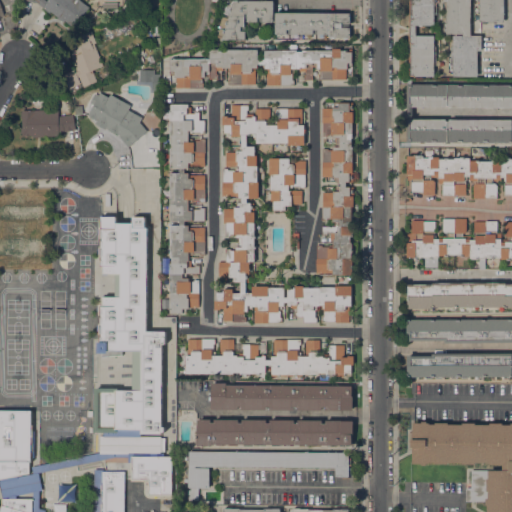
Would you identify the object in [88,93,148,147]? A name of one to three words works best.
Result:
building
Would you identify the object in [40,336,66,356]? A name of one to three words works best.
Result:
sports court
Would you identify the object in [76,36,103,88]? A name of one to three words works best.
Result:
house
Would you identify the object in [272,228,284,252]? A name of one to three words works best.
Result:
swimming pool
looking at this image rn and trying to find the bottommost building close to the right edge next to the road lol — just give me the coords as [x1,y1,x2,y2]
[412,422,512,512]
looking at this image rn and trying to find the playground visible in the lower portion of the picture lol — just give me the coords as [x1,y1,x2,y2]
[0,188,102,464]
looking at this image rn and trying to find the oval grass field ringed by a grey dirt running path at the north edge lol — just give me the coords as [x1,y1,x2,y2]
[170,0,210,42]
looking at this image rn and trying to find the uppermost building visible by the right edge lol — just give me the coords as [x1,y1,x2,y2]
[474,0,504,34]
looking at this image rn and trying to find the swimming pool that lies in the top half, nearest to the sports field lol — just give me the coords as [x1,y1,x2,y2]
[128,86,152,101]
